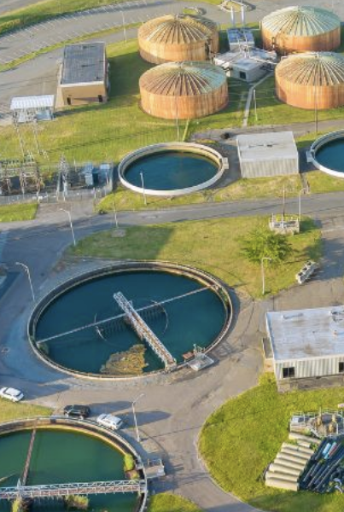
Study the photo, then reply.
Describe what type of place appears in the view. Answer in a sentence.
This image shows an industrial area.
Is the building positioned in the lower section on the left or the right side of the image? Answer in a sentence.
The building positioned in the lower section is on the right side of the image.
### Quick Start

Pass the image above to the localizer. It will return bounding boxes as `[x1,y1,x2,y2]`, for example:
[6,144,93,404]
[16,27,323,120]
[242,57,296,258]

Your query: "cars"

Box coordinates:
[0,387,25,402]
[59,403,91,419]
[94,411,125,431]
